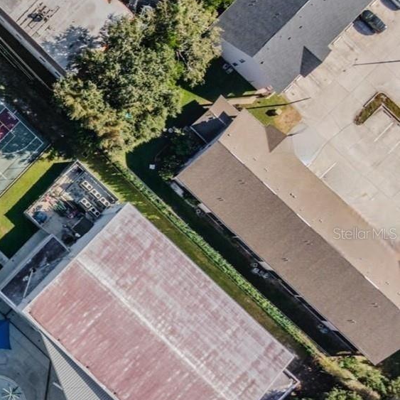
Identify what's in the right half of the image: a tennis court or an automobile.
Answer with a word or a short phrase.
automobile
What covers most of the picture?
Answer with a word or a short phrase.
buildings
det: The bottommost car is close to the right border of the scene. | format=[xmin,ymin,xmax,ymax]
[362,8,389,32]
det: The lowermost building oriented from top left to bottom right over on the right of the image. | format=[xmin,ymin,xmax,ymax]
[154,108,400,375]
